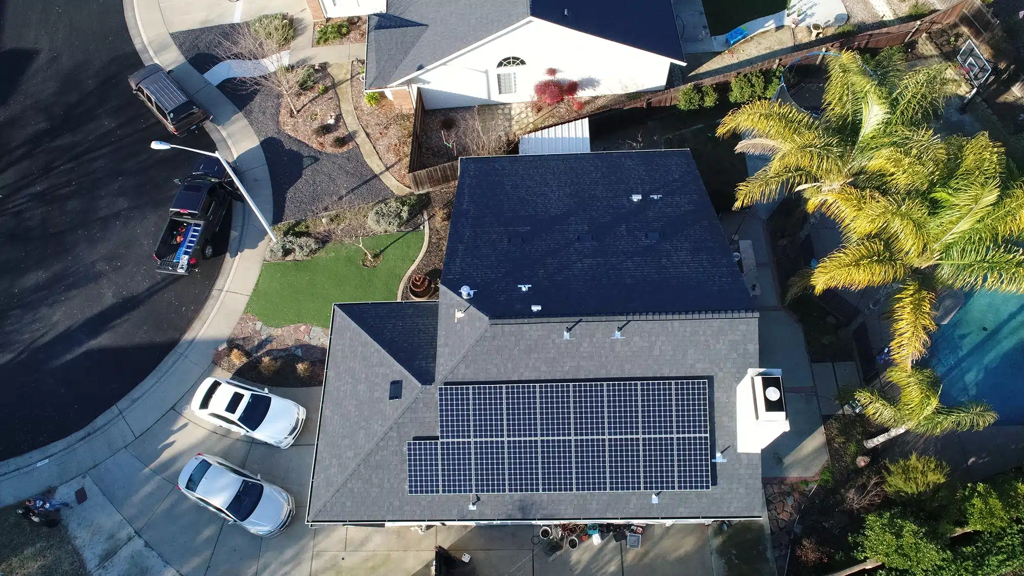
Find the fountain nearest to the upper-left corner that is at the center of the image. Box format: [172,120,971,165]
[405,272,434,298]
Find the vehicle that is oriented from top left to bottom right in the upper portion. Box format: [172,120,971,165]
[131,64,215,144]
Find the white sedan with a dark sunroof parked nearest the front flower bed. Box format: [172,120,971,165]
[189,386,307,455]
